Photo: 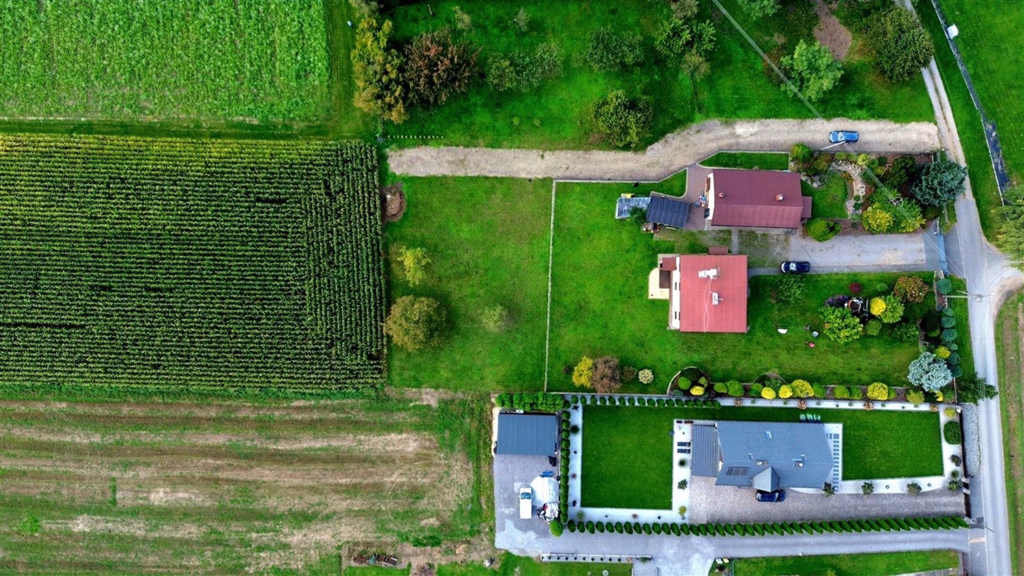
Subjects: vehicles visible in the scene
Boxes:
[779,259,810,274]
[755,489,785,504]
[518,484,533,519]
[827,129,859,144]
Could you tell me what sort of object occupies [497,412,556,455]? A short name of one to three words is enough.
building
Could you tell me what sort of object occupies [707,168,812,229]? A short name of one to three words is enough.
house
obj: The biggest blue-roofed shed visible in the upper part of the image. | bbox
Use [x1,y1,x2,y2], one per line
[646,196,692,230]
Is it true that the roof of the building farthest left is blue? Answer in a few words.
Yes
